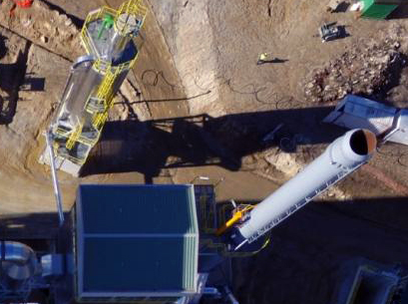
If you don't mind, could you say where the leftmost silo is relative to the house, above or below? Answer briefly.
above it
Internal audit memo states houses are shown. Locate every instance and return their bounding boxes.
[33,184,207,304]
